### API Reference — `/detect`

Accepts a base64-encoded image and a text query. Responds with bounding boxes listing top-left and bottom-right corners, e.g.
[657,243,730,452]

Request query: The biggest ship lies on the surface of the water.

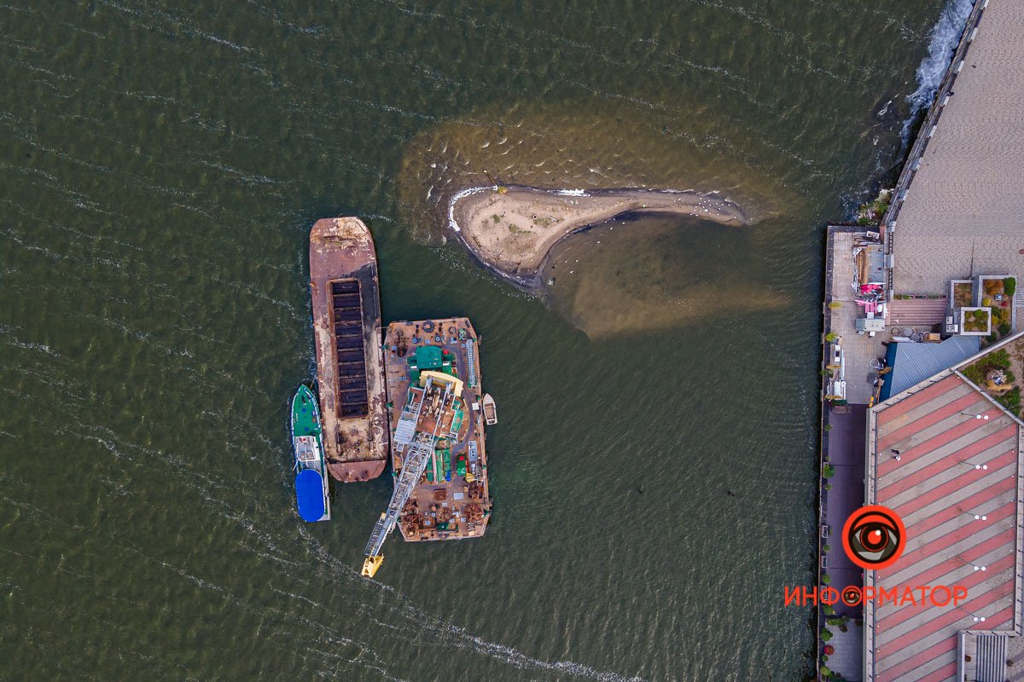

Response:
[309,216,390,483]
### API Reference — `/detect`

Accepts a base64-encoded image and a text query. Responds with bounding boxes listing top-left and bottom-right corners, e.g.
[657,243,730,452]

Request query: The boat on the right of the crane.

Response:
[483,393,497,424]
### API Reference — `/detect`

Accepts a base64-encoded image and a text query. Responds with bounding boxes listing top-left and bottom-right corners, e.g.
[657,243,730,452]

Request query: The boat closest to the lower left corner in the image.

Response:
[290,384,332,522]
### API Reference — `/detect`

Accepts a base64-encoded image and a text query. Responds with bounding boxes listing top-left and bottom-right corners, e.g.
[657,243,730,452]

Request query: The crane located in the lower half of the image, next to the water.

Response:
[362,377,470,577]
